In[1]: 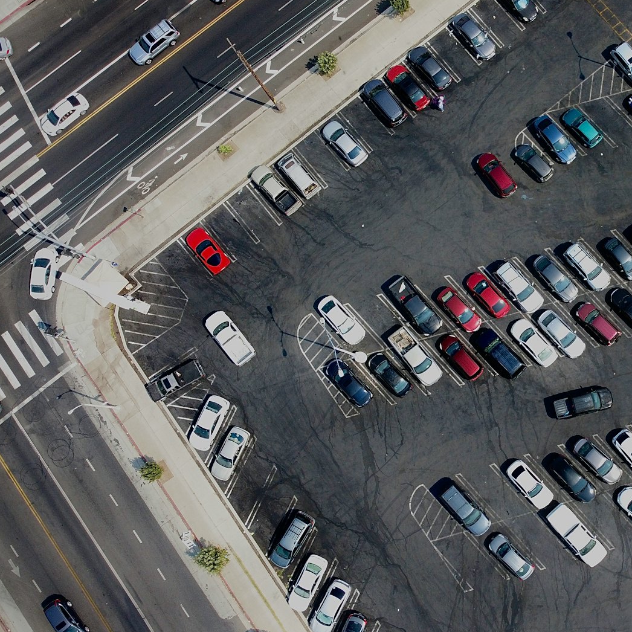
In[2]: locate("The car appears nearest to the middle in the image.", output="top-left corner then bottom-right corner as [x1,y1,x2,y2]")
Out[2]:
[316,292,368,347]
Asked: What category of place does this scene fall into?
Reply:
parking lot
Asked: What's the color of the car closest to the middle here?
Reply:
white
